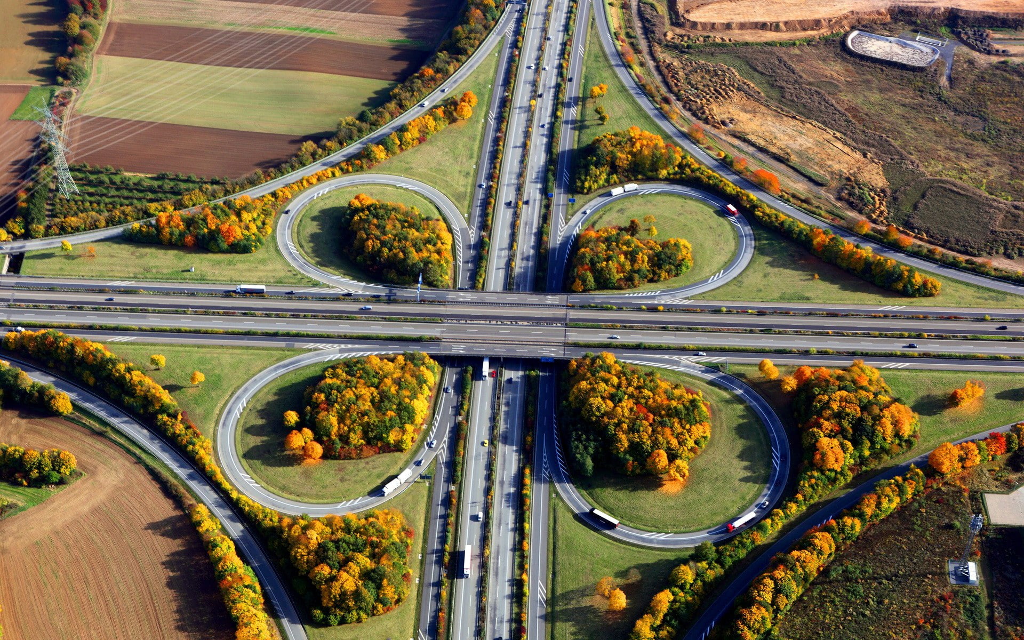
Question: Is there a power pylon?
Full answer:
Yes, the frame does contain a power pylon.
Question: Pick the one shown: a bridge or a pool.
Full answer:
It is a bridge that can be seen here.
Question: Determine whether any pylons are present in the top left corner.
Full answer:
Yes, looking in the top left corner, one can make out a pylon.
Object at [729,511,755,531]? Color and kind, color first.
white vehicle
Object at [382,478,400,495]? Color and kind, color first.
white vehicle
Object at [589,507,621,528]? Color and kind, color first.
white truck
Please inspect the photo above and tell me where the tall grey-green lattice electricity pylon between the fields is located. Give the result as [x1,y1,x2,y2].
[36,98,81,196]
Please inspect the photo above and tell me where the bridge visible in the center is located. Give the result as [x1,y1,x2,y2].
[437,287,571,364]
